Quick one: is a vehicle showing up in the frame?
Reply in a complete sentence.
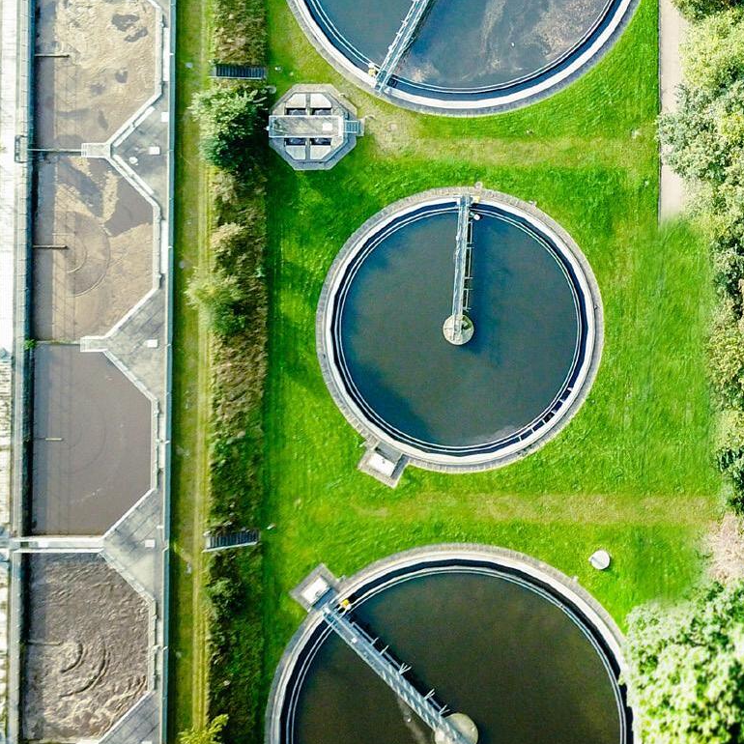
No, no vehicle is visible in the view.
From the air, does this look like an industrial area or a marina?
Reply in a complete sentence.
This image shows an industrial area.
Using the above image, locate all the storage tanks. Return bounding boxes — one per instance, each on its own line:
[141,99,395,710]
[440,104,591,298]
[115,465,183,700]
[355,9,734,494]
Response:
[316,186,603,473]
[265,544,641,744]
[288,0,638,119]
